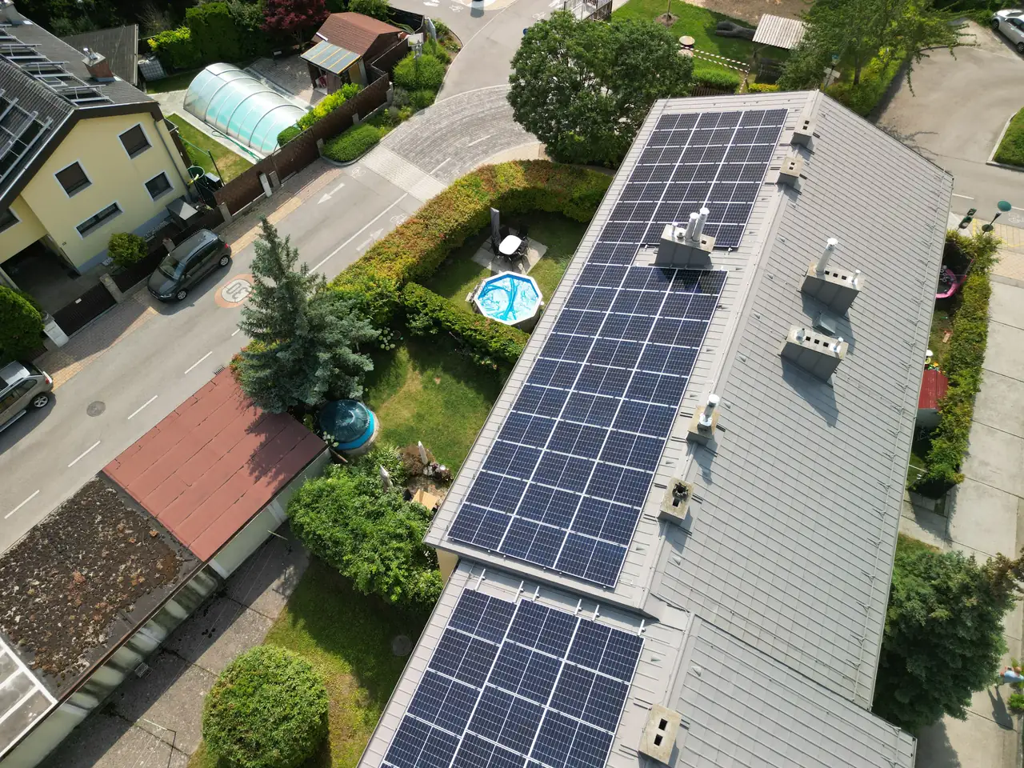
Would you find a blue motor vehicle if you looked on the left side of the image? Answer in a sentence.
No, the scene shows no blue motor vehicle on the left side of the image.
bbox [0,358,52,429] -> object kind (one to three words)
car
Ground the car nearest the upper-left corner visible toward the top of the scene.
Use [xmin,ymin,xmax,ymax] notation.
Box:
[142,231,233,305]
